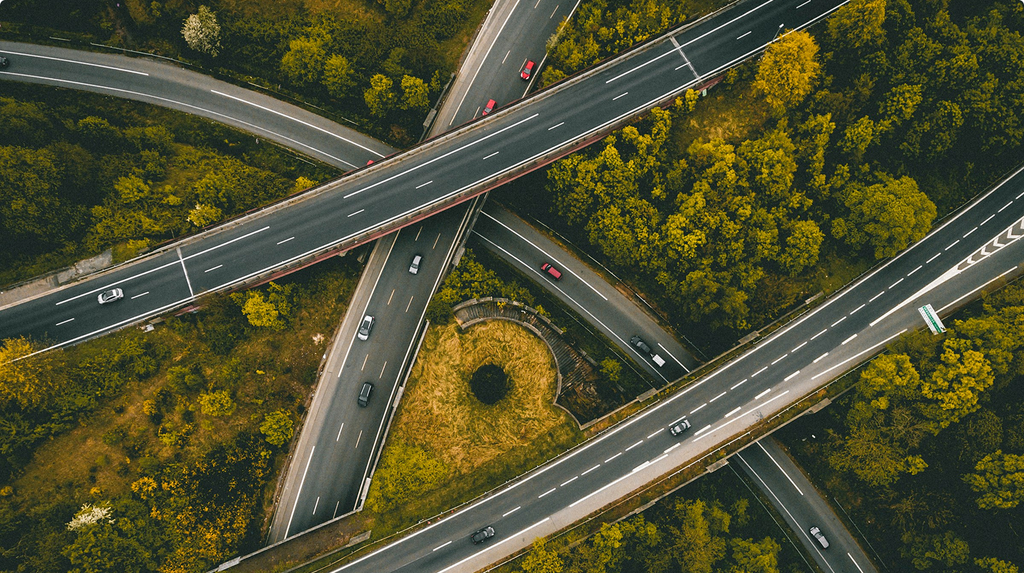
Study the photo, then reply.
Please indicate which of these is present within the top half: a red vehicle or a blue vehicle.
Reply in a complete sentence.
Visible within the top half is a red vehicle.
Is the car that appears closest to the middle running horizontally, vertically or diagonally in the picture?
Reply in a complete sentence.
In this picture, the car that appears closest to the middle is oriented diagonally.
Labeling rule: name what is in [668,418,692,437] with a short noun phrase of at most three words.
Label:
car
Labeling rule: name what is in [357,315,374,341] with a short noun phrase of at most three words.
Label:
car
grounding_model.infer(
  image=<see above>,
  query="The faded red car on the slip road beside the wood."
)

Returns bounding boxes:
[540,262,564,282]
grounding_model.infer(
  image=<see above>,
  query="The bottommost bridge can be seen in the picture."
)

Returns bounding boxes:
[203,507,418,573]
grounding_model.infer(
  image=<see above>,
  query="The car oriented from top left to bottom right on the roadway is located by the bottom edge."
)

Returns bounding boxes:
[808,525,832,552]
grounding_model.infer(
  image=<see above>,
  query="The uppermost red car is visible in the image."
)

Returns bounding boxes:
[520,59,536,80]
